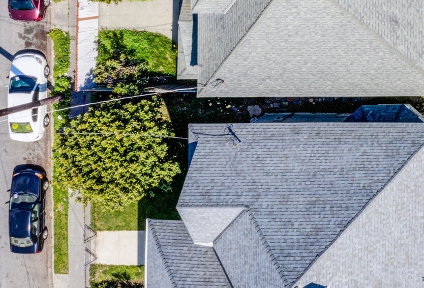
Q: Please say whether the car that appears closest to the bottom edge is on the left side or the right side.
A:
left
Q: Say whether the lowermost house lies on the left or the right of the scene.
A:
right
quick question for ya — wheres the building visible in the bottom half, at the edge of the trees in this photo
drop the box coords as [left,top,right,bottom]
[143,101,424,288]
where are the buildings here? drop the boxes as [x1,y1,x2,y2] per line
[171,0,424,98]
[143,101,424,288]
